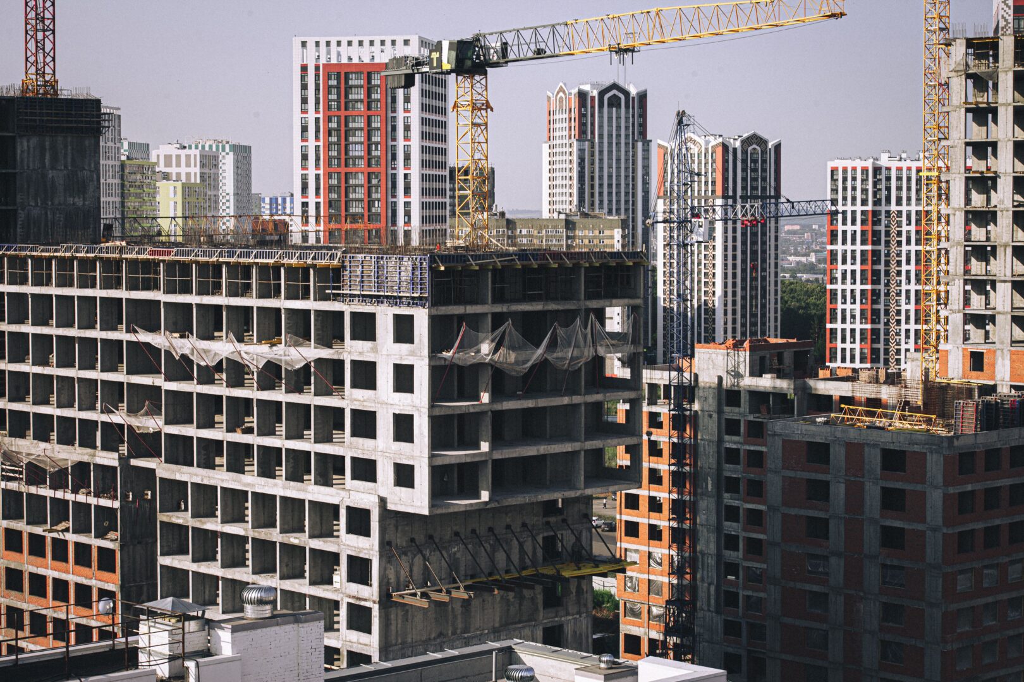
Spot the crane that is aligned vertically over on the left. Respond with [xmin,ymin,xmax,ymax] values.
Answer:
[17,0,62,99]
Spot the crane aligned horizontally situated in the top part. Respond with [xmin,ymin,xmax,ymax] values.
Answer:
[372,0,856,245]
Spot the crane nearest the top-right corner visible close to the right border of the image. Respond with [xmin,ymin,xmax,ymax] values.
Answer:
[920,0,974,413]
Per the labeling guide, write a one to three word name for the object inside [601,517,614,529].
vehicle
